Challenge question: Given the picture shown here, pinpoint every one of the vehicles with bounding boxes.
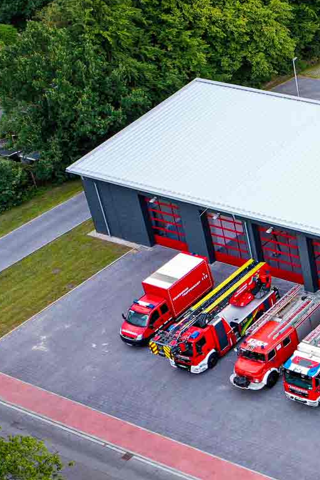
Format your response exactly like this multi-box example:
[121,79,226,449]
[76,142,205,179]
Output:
[149,260,279,376]
[118,253,215,350]
[278,320,320,410]
[234,282,320,390]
